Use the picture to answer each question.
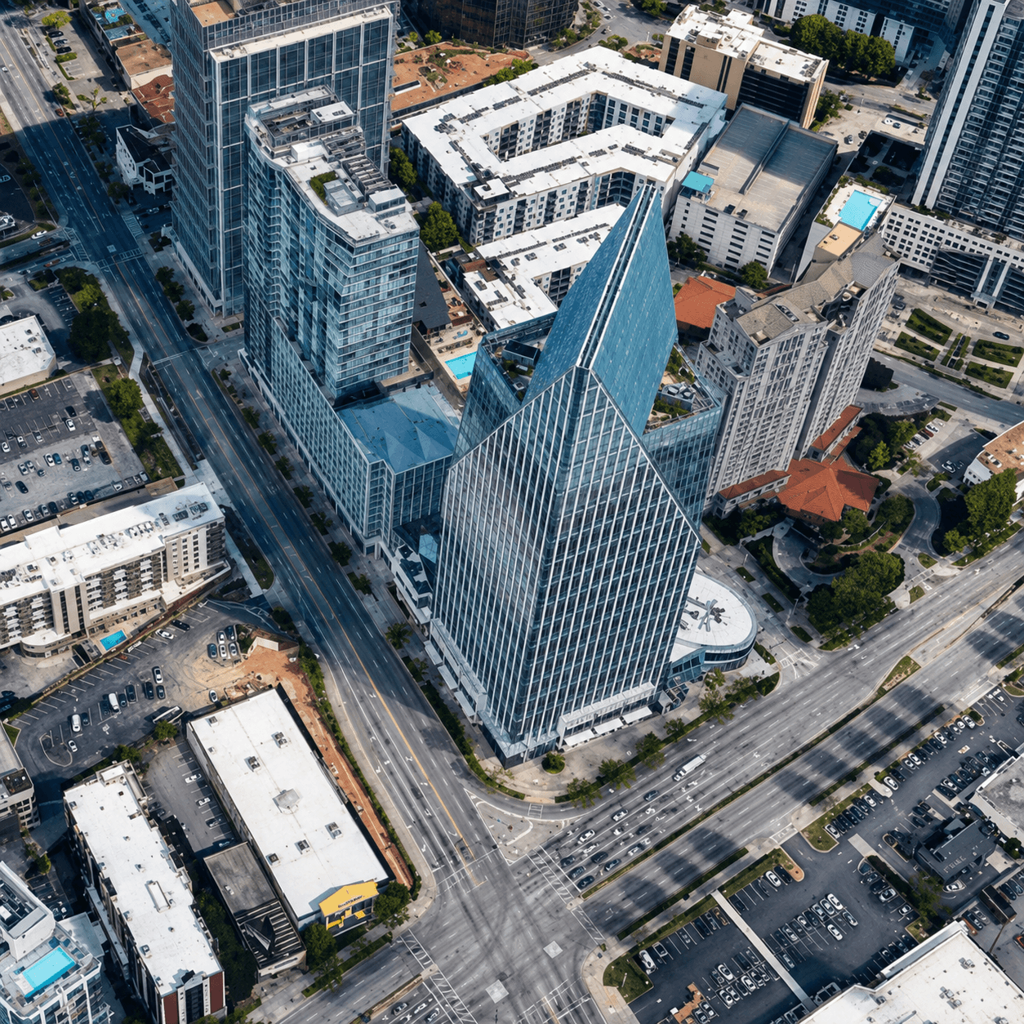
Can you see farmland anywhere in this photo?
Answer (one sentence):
No, farmland can't be seen anywhere here.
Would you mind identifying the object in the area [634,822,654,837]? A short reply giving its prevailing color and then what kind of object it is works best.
black car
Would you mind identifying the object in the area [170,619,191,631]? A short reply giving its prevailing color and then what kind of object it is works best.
black vehicle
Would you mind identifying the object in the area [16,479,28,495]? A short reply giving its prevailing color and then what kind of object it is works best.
black vehicle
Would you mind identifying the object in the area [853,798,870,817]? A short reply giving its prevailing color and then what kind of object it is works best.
black car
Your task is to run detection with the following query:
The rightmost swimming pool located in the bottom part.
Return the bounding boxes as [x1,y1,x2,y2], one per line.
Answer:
[99,630,127,650]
